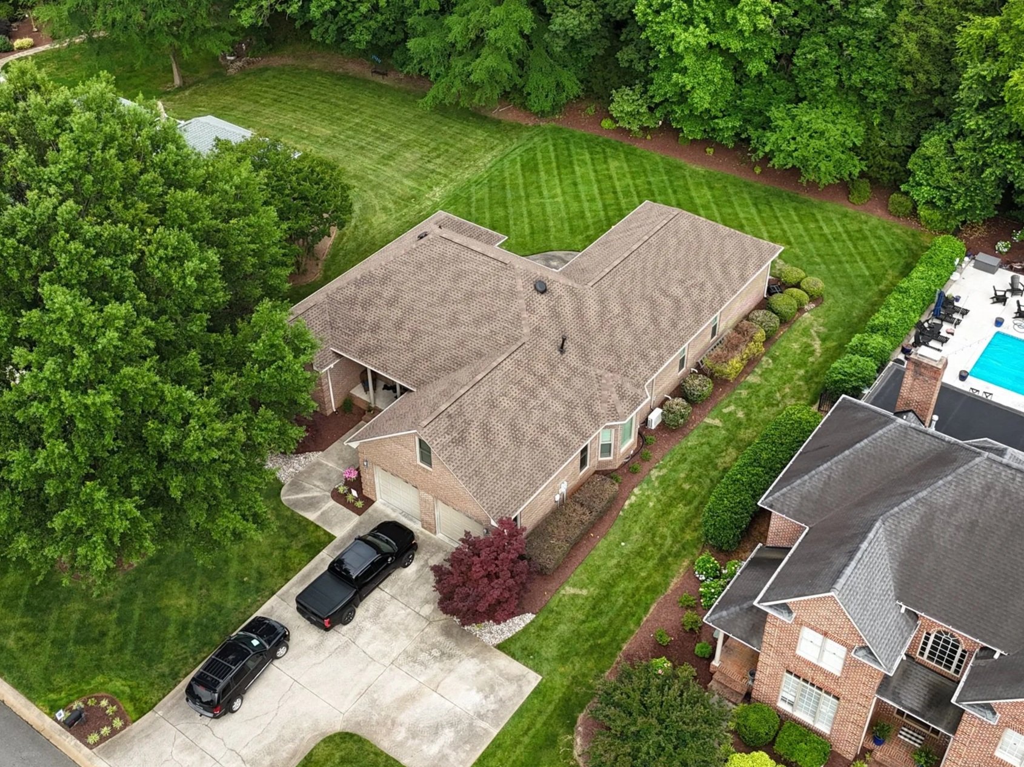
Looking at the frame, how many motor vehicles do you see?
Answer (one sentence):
There are 2 motor vehicles in the image.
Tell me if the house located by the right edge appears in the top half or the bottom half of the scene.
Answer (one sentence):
The bottom half of the photo is where the house located by the right edge is.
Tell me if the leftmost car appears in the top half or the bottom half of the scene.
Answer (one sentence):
The leftmost car sits in the bottom half of the picture.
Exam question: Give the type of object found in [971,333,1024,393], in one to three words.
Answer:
swimming pool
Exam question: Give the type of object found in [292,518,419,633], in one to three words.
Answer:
truck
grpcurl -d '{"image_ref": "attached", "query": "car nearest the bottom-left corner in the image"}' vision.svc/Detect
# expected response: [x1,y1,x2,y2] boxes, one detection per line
[178,611,290,723]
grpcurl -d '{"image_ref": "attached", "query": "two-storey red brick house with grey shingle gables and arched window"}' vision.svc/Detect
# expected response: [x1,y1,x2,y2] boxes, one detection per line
[698,349,1024,767]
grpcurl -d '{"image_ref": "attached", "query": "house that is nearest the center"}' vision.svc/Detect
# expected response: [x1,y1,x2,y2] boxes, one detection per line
[262,200,786,556]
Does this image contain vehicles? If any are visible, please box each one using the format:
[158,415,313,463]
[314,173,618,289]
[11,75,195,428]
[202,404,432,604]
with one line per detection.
[292,518,419,633]
[178,611,290,723]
